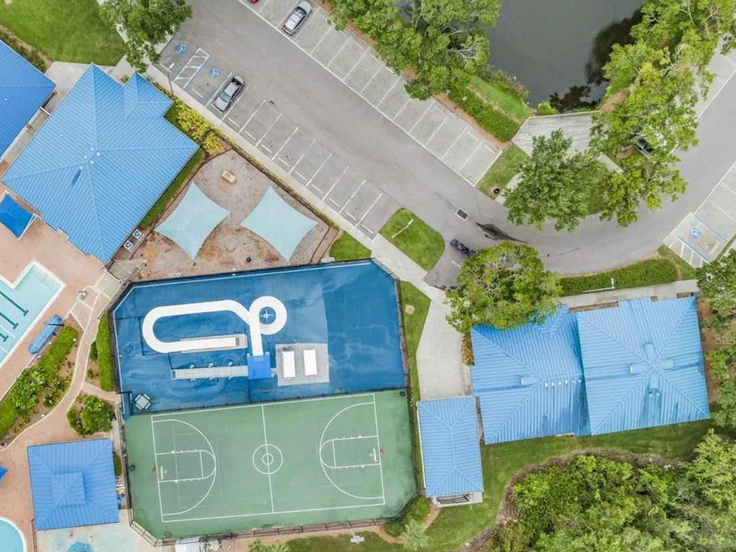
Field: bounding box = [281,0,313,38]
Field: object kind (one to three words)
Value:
car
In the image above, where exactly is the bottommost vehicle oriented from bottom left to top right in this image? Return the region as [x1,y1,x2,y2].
[213,74,245,113]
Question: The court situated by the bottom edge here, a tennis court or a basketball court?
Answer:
basketball court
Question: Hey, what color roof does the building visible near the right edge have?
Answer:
blue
